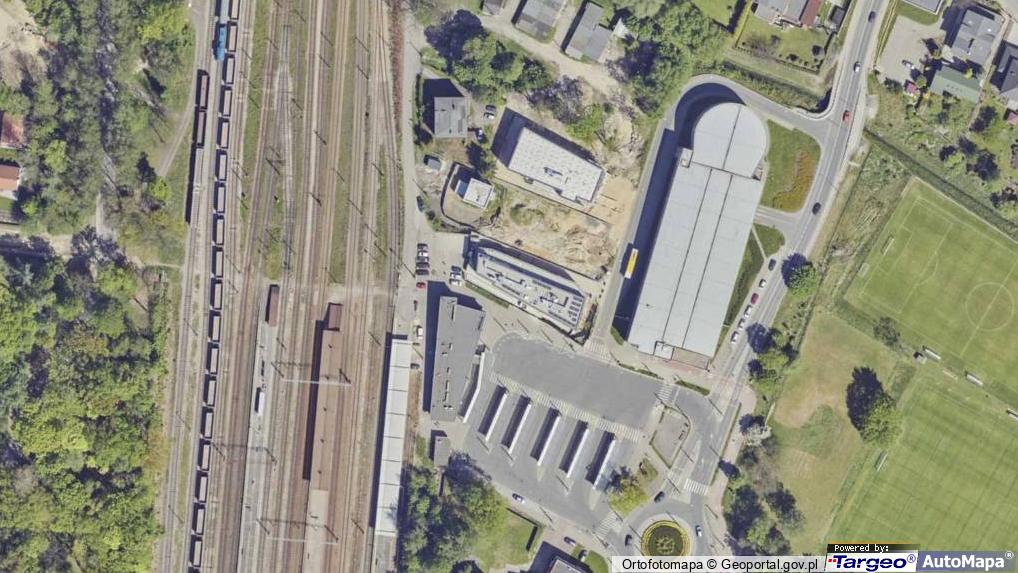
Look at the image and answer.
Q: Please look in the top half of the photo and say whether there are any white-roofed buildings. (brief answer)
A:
Yes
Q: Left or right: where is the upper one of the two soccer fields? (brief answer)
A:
right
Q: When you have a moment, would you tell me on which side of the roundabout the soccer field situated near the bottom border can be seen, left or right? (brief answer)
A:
on its right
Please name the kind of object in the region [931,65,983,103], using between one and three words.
building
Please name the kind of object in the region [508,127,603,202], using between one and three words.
building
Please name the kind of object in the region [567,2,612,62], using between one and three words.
shed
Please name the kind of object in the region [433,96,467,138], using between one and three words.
house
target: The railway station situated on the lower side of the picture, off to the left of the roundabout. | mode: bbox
[238,286,411,573]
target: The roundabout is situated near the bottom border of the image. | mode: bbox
[621,497,713,571]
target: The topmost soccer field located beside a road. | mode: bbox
[842,177,1018,420]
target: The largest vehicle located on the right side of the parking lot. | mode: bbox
[624,248,638,279]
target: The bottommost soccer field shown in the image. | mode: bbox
[814,364,1018,573]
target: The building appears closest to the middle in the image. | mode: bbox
[466,243,586,339]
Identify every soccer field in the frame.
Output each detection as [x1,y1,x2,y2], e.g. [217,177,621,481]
[842,177,1018,420]
[814,364,1018,573]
